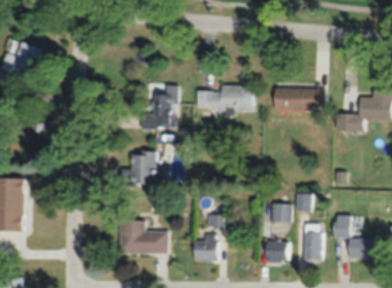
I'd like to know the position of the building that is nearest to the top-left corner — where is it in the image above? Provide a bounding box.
[5,40,42,72]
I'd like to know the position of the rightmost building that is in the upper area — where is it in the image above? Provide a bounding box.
[335,92,392,132]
